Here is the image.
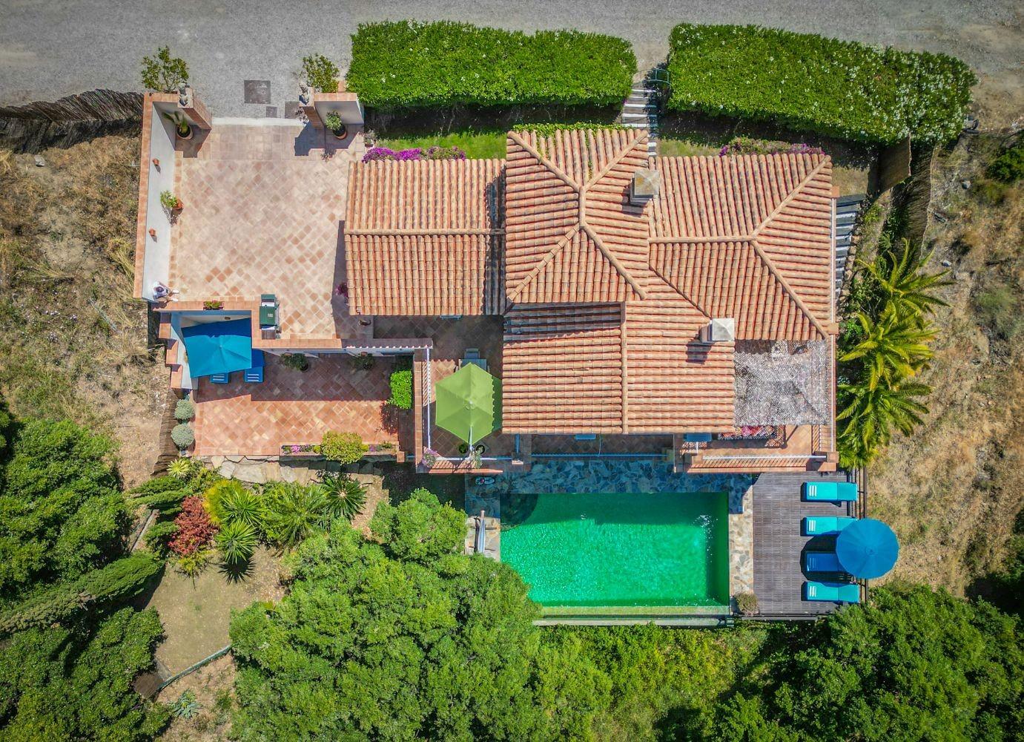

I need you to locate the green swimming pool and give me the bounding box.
[496,492,730,627]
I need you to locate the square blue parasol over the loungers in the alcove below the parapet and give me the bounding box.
[182,318,252,378]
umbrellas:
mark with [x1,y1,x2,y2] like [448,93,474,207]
[182,318,252,378]
[825,516,898,580]
[436,362,504,464]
